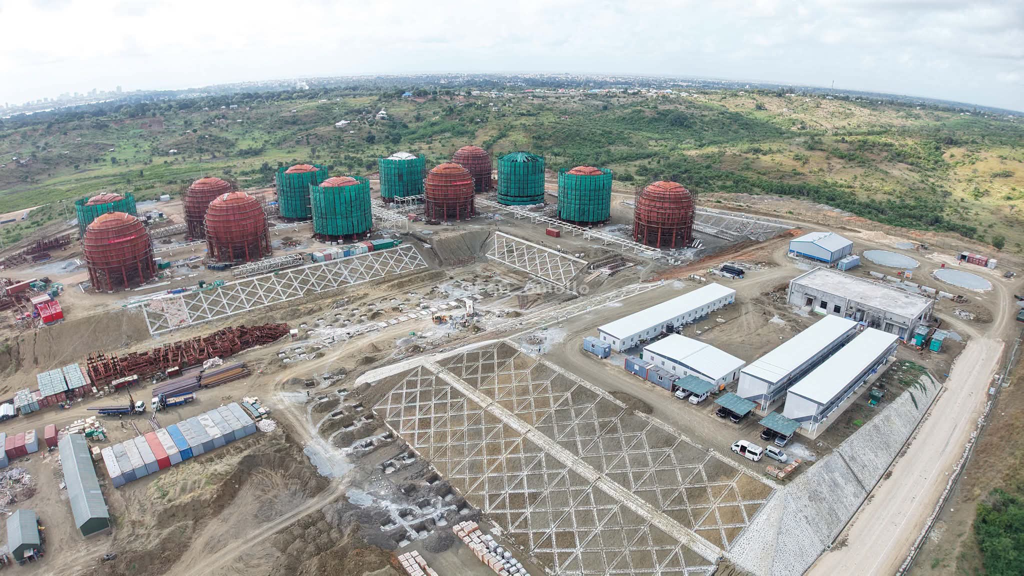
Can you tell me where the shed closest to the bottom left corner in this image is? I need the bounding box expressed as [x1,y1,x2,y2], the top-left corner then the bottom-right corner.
[7,511,45,563]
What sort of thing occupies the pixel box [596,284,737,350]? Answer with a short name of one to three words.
building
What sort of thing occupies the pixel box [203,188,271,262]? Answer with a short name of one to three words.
storage tank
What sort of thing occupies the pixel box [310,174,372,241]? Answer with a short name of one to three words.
storage tank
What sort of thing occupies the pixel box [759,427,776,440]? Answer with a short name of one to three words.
vehicle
